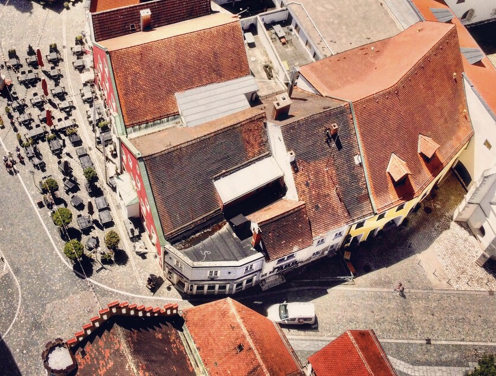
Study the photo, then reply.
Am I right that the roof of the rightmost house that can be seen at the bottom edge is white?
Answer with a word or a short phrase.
No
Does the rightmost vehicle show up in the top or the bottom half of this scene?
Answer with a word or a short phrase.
bottom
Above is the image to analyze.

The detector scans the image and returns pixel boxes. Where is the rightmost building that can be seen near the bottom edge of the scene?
[304,331,393,376]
